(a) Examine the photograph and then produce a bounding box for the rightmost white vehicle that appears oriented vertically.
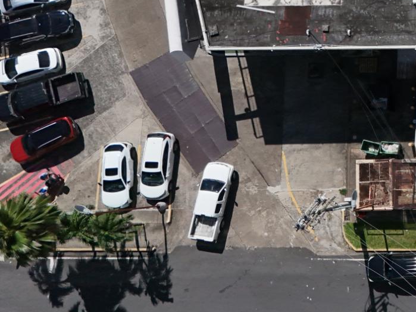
[188,161,236,246]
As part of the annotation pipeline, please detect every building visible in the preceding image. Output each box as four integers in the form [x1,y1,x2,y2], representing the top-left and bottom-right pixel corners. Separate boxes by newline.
[165,0,416,64]
[356,161,416,208]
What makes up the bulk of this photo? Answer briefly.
paved ground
